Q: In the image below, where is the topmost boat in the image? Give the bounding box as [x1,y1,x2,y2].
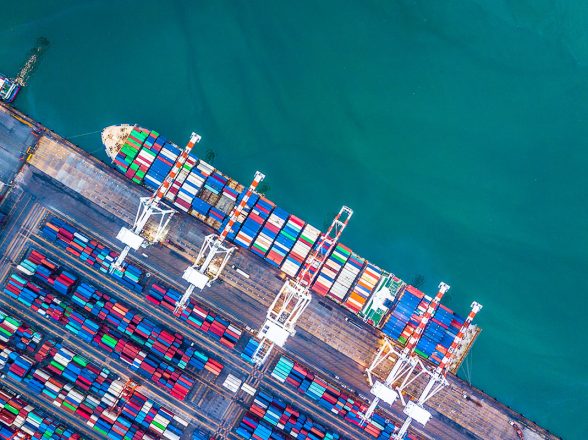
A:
[0,72,20,102]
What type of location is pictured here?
port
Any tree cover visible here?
No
